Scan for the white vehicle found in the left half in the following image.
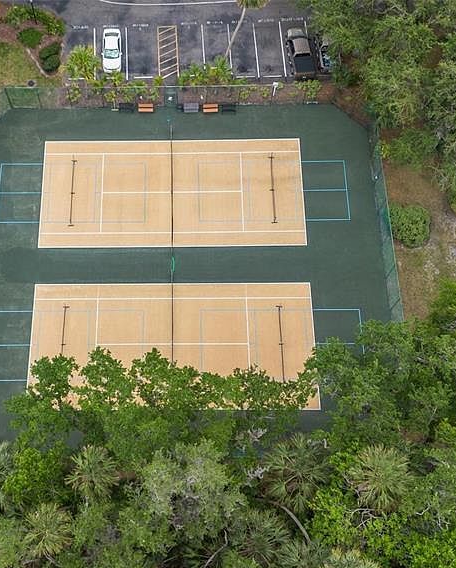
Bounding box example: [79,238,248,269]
[99,29,121,71]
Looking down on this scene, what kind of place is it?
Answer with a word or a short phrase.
sports ground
